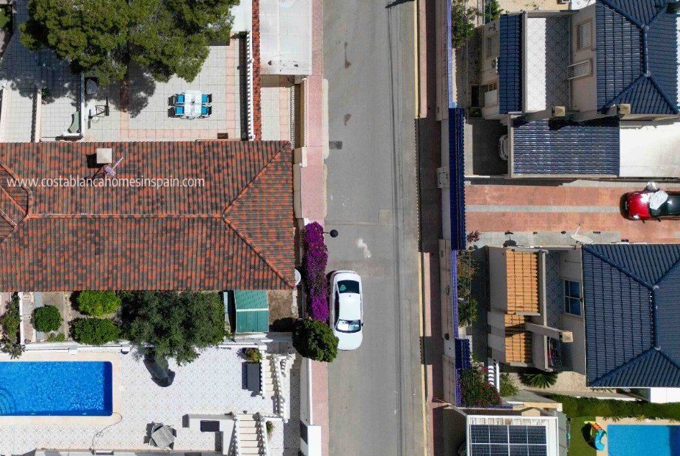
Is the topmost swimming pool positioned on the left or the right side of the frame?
left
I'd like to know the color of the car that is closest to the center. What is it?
white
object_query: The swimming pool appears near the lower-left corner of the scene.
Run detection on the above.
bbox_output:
[0,353,121,425]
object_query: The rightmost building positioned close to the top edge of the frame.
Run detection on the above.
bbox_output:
[483,0,680,124]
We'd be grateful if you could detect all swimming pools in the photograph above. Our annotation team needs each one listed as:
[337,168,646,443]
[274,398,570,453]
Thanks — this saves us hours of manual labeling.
[604,421,680,456]
[0,353,121,425]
